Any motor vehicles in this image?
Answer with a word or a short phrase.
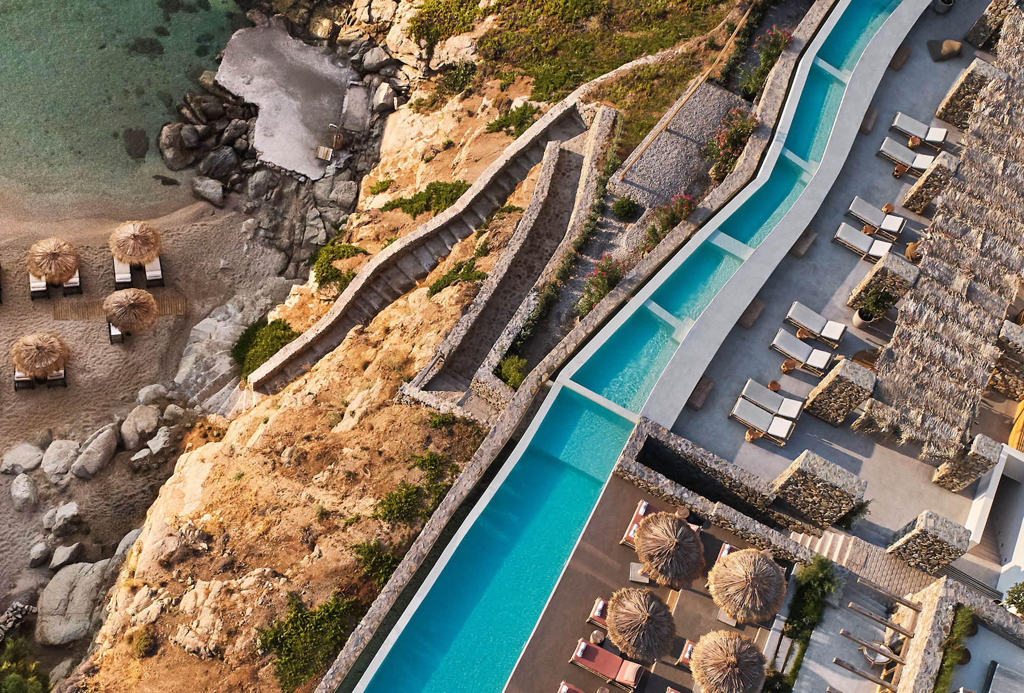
No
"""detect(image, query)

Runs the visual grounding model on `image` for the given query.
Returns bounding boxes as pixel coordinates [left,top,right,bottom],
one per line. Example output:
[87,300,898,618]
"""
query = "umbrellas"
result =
[26,239,83,288]
[8,330,75,384]
[101,288,161,337]
[701,545,787,632]
[684,624,771,693]
[108,223,164,269]
[632,517,706,589]
[600,588,677,666]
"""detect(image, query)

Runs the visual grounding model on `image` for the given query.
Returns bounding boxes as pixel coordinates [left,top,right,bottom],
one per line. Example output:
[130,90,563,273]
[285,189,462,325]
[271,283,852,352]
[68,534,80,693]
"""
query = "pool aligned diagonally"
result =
[352,0,932,693]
